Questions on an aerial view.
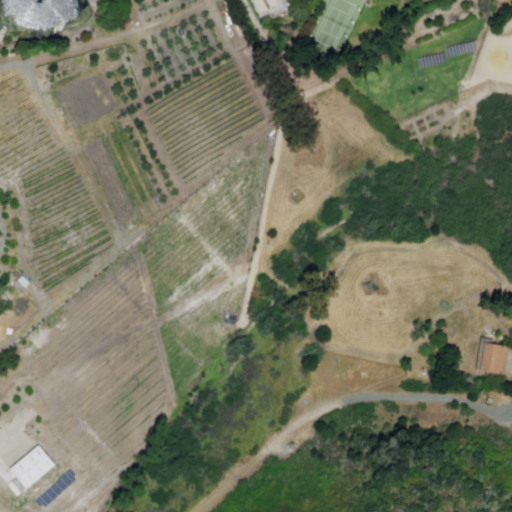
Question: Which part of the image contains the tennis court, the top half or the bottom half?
top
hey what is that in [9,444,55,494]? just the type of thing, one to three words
barn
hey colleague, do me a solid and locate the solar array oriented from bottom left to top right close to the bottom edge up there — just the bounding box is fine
[37,471,76,507]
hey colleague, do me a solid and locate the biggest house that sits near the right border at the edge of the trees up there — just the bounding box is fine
[476,339,510,374]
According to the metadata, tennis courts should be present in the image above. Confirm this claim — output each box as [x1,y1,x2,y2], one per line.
[307,0,370,58]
